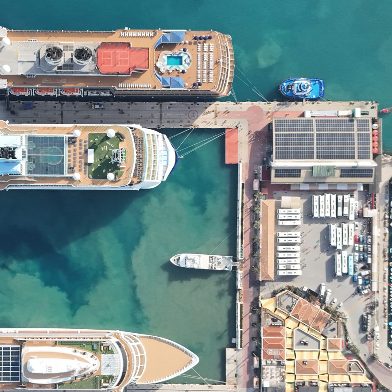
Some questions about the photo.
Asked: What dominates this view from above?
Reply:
water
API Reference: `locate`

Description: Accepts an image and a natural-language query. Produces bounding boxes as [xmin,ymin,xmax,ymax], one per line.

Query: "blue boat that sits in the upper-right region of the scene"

[278,76,326,99]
